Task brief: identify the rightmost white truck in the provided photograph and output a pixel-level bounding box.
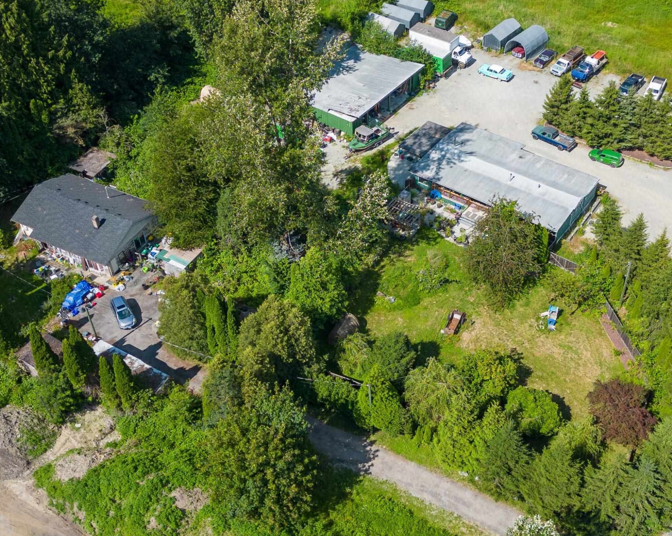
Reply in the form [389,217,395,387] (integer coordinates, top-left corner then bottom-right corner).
[645,77,667,100]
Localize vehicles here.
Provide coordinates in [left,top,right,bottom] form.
[619,74,644,96]
[476,63,515,83]
[549,39,588,76]
[433,7,456,31]
[410,24,479,70]
[567,47,612,86]
[529,125,578,150]
[509,41,524,60]
[533,50,557,67]
[645,77,667,100]
[587,149,624,168]
[110,295,136,333]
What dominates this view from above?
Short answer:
trees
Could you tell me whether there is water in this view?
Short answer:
No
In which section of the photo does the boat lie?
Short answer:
top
